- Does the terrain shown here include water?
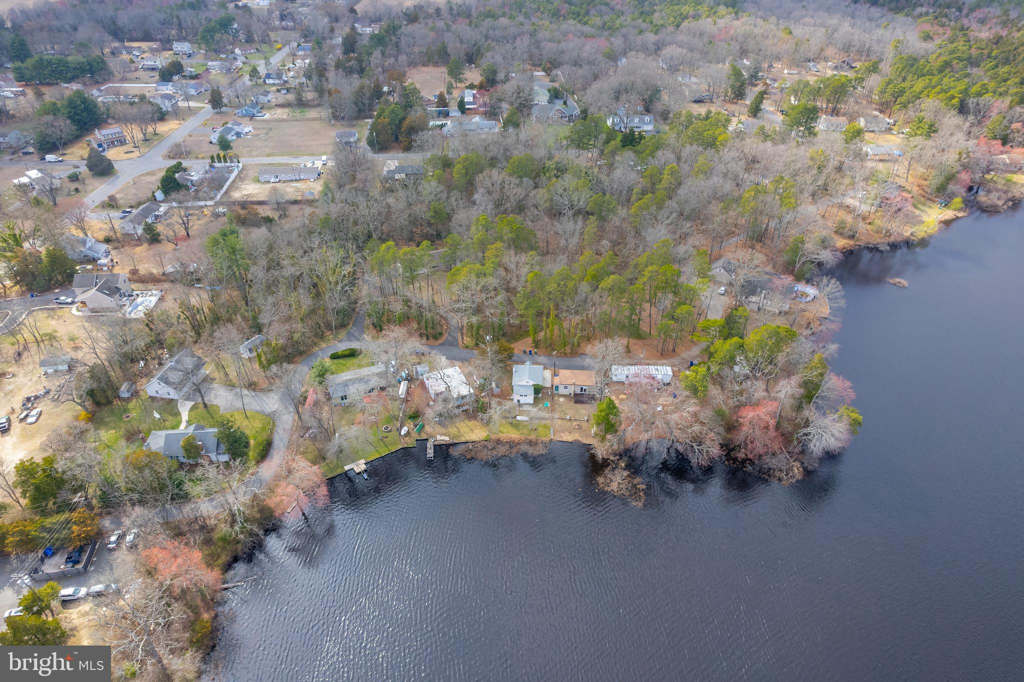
Yes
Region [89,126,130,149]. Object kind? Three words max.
house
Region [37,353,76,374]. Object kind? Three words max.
shed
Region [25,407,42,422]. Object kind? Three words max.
car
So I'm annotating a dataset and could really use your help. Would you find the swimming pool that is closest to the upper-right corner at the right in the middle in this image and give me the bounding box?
[799,285,826,302]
